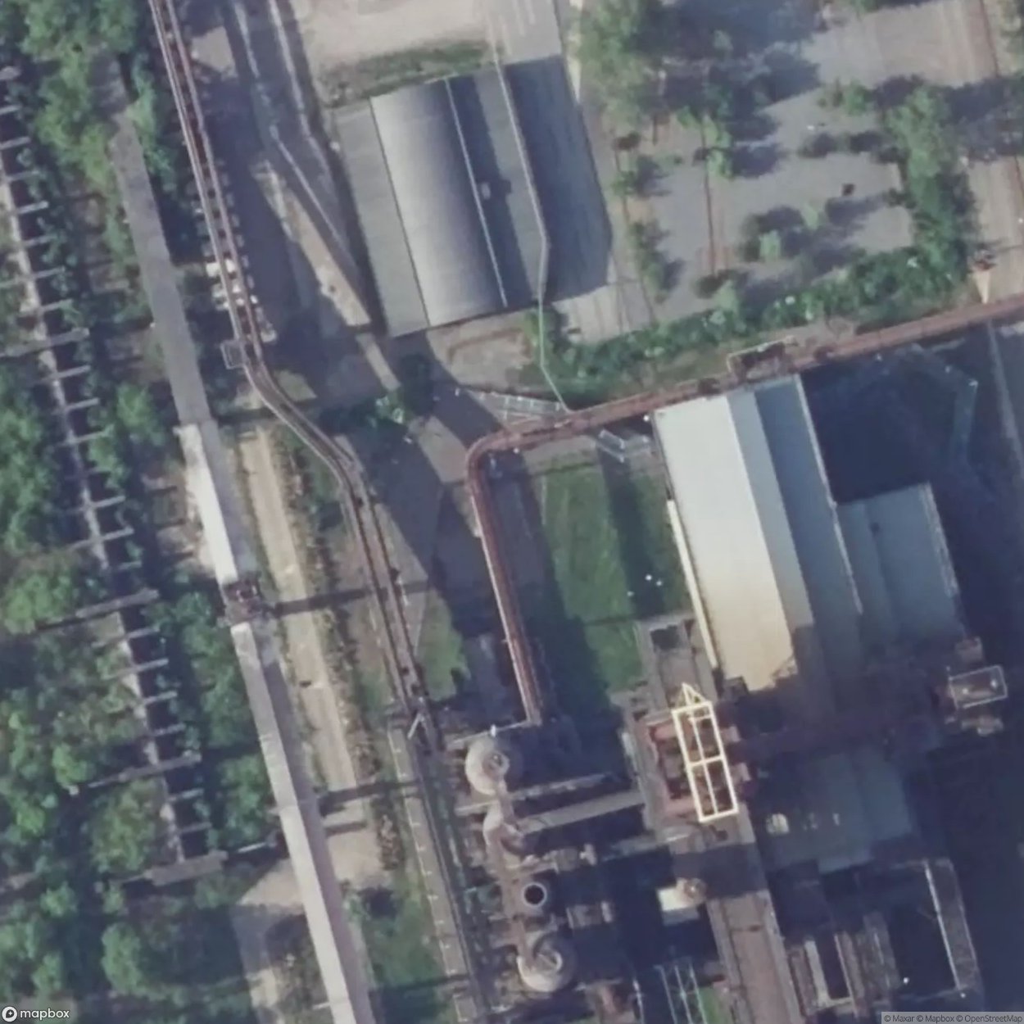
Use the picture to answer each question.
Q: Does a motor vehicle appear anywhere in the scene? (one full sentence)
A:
No, I can't see a single motor vehicle in this photo.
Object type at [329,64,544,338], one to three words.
building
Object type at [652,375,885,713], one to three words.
building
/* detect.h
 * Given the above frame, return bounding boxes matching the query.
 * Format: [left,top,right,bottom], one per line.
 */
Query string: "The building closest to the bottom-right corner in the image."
[891,858,982,996]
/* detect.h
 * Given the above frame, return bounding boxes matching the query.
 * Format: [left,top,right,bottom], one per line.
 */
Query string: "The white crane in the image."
[672,684,739,821]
